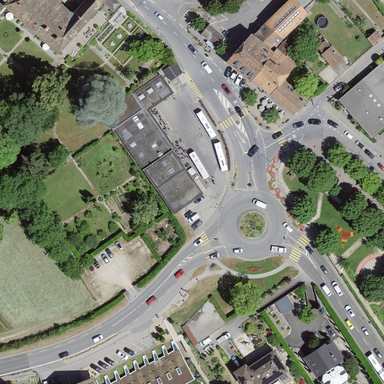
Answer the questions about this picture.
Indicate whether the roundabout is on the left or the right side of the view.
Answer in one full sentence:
It is on the right.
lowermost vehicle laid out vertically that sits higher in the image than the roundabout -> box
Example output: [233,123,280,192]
[214,142,226,171]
